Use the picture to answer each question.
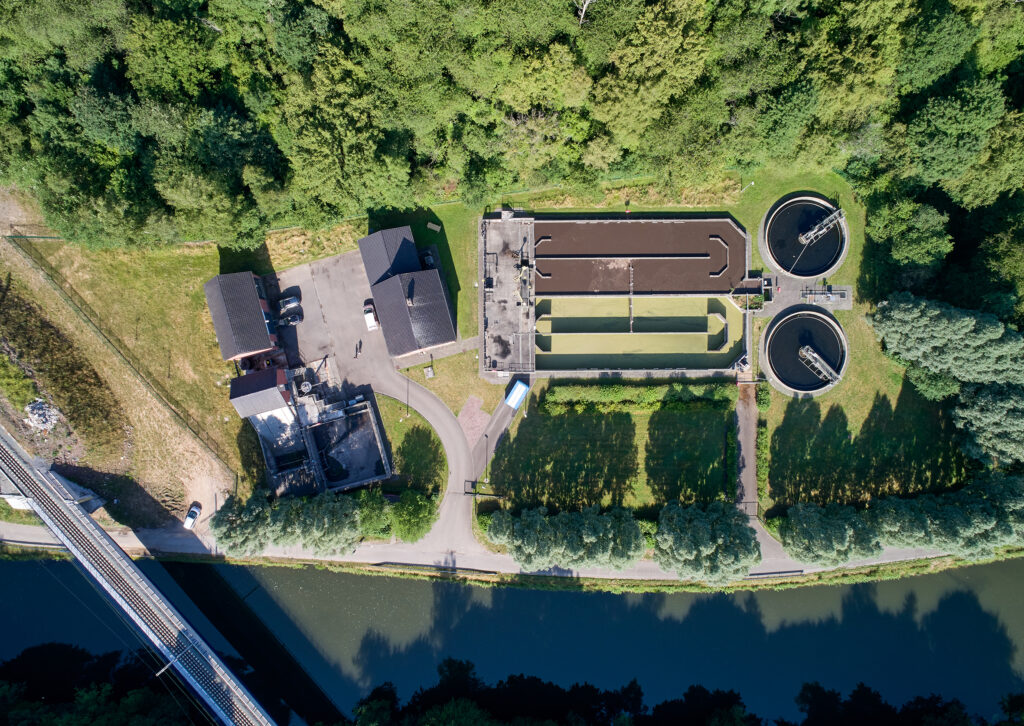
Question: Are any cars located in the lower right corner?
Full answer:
No, looking in the lower right corner, there is no car.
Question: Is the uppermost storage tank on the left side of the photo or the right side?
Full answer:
The uppermost storage tank is on the right side of the image.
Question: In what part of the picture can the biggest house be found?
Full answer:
The biggest house appears toward the center of the photo.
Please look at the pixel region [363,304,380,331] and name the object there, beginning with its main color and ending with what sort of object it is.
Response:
white vehicle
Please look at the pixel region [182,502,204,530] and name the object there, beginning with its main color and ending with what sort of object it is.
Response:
white car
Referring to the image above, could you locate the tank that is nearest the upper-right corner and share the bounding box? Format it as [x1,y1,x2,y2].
[759,193,850,284]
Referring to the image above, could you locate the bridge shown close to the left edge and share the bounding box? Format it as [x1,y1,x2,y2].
[0,435,282,726]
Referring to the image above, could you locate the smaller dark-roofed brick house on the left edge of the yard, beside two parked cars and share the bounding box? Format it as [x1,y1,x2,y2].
[203,272,281,361]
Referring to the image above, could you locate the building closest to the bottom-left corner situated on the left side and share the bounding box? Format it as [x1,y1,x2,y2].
[228,368,295,419]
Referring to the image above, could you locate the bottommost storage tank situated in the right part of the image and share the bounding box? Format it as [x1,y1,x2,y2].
[760,307,850,397]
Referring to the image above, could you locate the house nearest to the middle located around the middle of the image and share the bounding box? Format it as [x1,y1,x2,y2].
[357,225,456,358]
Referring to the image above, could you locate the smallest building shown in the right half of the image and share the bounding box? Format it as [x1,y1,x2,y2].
[801,286,852,309]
